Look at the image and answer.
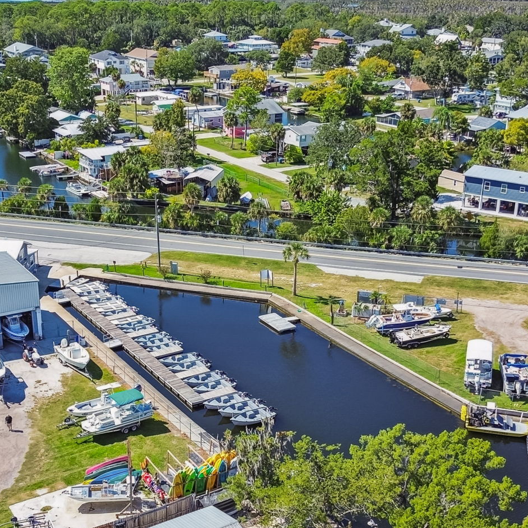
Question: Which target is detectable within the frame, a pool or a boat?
boat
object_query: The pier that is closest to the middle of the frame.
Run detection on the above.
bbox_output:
[256,313,296,334]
